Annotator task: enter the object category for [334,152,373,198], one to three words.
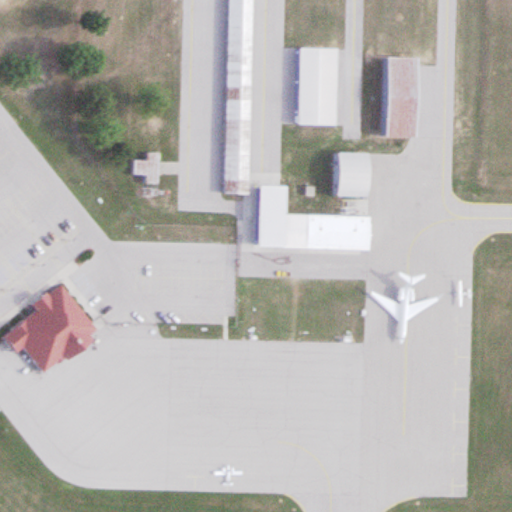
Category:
hangar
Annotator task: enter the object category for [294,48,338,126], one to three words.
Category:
hangar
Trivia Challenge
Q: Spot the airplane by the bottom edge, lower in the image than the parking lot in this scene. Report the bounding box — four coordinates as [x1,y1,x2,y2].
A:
[214,464,243,486]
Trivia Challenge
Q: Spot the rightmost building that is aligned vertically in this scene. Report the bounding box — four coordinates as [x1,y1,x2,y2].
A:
[380,58,420,138]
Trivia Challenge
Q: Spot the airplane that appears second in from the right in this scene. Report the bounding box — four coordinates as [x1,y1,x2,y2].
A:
[370,271,440,344]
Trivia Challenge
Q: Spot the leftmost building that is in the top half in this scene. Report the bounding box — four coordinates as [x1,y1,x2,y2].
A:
[132,152,161,185]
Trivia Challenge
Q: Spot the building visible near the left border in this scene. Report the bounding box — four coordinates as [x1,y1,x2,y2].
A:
[5,284,96,370]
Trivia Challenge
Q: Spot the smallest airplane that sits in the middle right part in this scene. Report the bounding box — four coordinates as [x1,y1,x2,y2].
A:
[454,280,473,307]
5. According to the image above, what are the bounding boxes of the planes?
[454,280,473,307]
[214,464,243,486]
[370,271,440,344]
